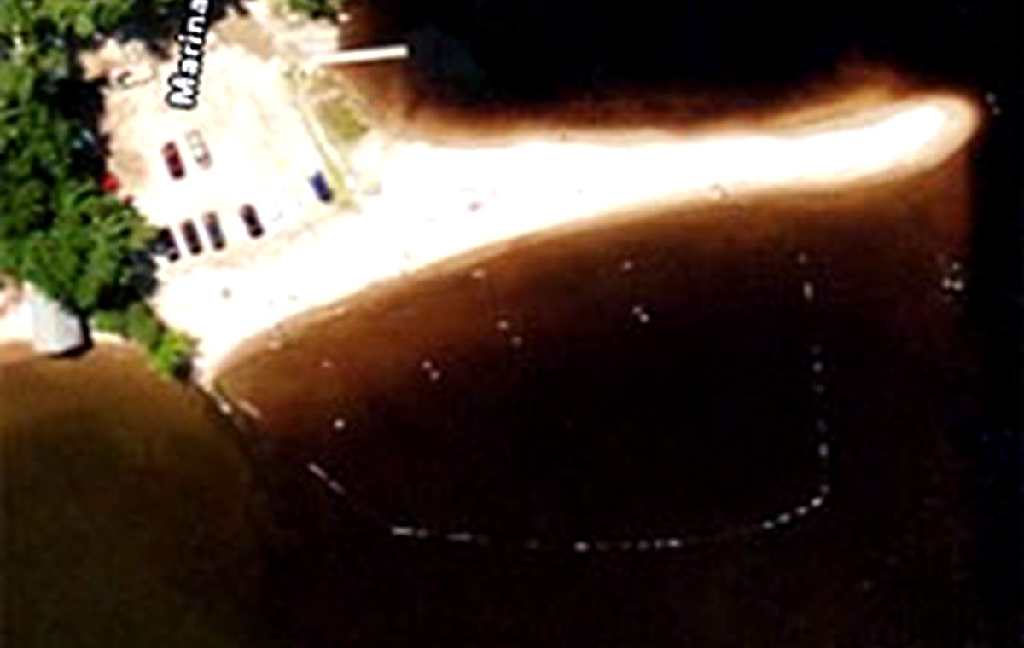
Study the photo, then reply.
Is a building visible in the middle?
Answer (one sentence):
No, the scene shows no building in the middle.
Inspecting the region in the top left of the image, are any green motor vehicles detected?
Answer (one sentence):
No, in the top left of the image there is no green motor vehicle.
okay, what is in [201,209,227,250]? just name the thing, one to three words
car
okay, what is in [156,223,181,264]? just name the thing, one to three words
car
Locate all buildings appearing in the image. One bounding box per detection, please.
[21,288,82,354]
